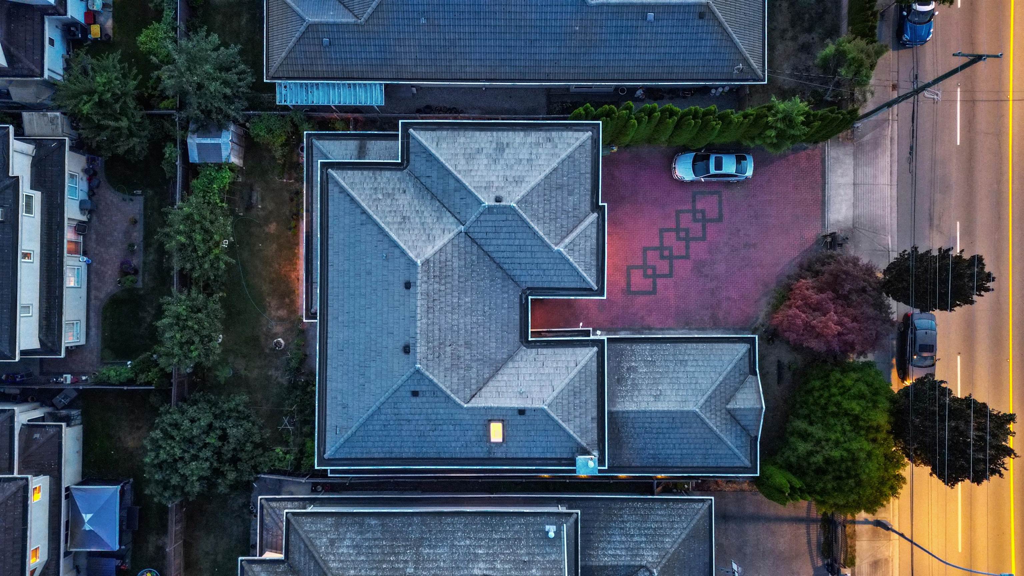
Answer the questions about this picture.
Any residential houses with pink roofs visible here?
No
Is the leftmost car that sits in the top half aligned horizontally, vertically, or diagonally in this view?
horizontally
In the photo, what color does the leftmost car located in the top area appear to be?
blue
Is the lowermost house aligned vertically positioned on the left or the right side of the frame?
left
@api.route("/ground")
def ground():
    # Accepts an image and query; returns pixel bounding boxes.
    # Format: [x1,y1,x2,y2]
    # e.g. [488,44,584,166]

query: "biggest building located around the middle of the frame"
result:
[304,121,765,475]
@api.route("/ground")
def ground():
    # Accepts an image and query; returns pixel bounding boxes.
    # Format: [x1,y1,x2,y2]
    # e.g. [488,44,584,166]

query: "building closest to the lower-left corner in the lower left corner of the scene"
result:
[0,405,82,576]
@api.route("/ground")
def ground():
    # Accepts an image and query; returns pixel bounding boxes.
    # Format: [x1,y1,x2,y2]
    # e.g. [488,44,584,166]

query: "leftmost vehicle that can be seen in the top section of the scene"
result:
[672,146,755,184]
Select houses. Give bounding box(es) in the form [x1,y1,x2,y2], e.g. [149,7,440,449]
[0,125,88,360]
[264,0,767,88]
[304,121,765,475]
[0,405,82,576]
[239,489,714,576]
[0,0,86,81]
